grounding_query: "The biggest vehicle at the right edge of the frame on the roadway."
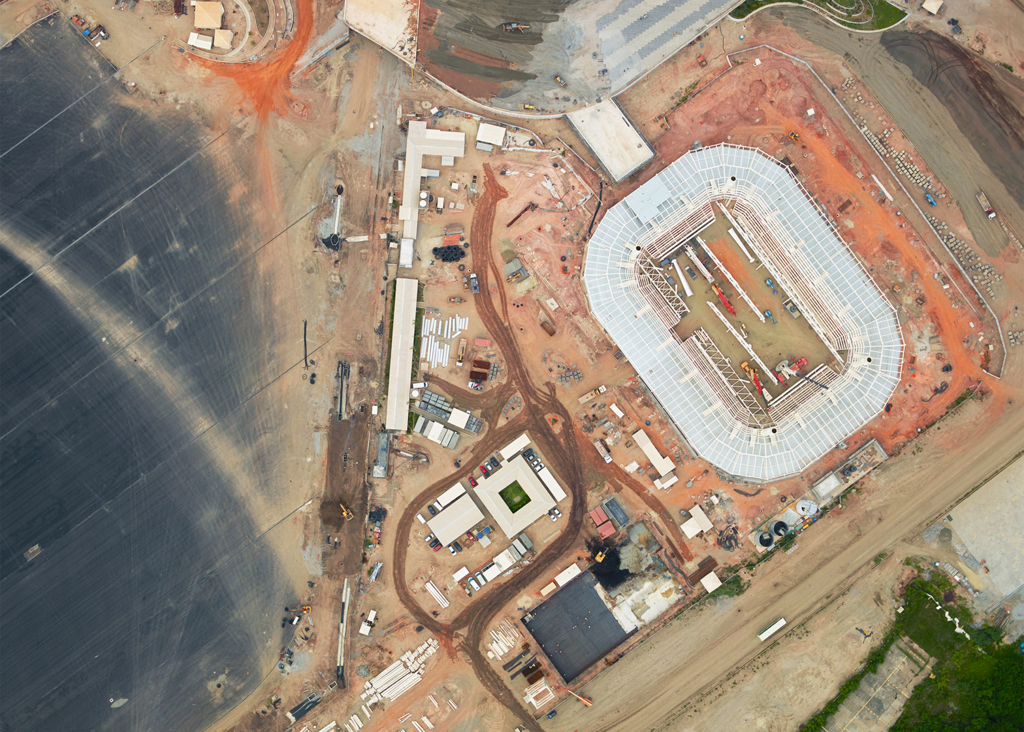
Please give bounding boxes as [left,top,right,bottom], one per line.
[975,191,997,220]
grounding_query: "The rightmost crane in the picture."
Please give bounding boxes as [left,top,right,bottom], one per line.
[776,354,832,391]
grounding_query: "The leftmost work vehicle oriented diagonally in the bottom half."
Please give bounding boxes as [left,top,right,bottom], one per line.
[339,503,354,520]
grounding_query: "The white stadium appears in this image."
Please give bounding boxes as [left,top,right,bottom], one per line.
[577,141,907,481]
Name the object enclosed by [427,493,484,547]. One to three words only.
building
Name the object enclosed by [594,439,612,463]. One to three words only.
vehicle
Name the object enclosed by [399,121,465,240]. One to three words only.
building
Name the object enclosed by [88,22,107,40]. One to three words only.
vehicle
